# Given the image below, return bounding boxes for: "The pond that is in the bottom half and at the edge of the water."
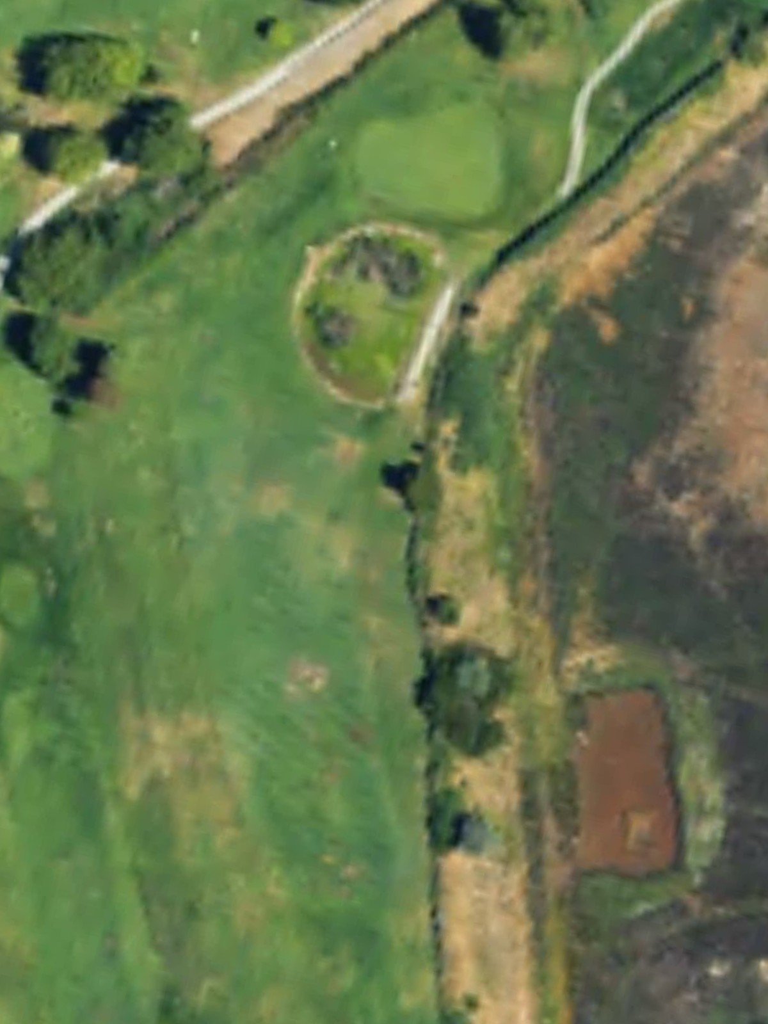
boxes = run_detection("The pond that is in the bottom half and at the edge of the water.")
[572,688,679,874]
